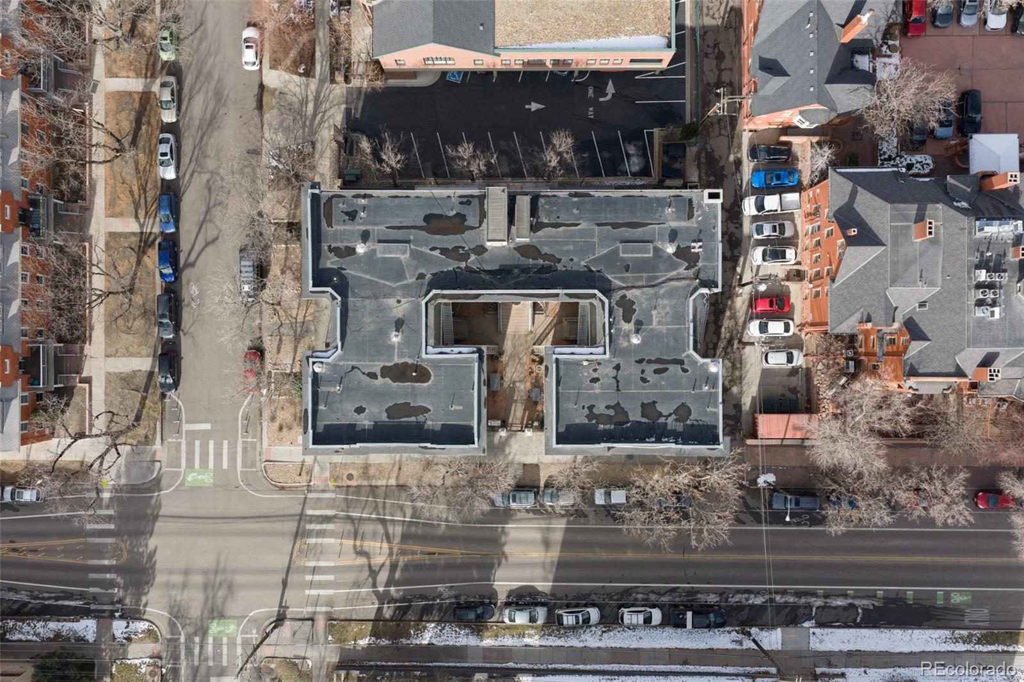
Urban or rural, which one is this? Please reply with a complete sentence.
The area is urban.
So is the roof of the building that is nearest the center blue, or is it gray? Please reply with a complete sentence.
The roof of the building that is nearest the center is gray.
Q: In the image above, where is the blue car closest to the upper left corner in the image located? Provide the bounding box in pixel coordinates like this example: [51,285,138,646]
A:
[157,194,179,234]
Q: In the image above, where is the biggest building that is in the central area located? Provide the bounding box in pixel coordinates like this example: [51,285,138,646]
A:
[303,183,730,456]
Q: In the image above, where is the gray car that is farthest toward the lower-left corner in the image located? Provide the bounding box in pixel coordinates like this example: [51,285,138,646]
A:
[3,484,47,506]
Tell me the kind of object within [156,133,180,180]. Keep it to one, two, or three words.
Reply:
car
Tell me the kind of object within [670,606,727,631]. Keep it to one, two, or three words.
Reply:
truck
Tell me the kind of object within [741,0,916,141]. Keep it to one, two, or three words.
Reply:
house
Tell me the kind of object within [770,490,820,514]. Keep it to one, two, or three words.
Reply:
car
